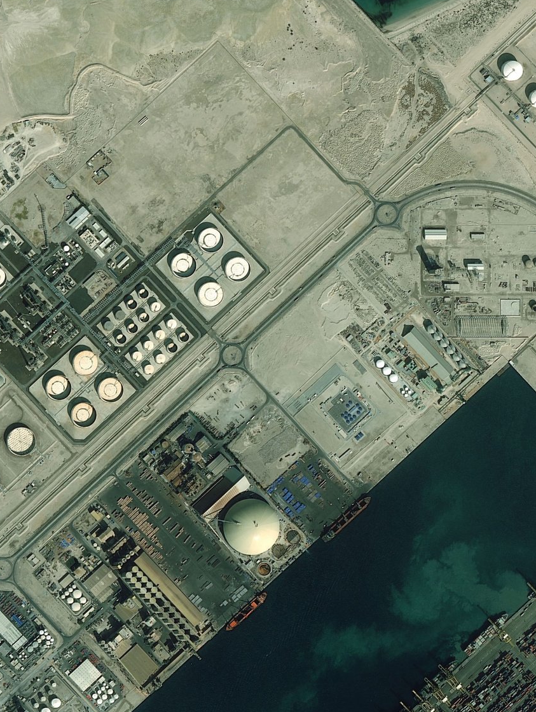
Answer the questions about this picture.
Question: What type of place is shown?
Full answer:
This looks like a port.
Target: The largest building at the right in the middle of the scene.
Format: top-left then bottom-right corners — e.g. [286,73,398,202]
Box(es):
[402,326,455,383]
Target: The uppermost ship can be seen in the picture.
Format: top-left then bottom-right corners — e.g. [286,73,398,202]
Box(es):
[320,496,372,544]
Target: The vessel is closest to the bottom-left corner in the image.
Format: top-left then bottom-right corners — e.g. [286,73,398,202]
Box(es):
[226,592,269,630]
